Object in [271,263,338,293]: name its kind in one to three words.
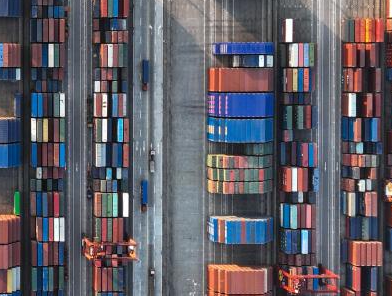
container crane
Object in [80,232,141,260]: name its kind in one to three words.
container crane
